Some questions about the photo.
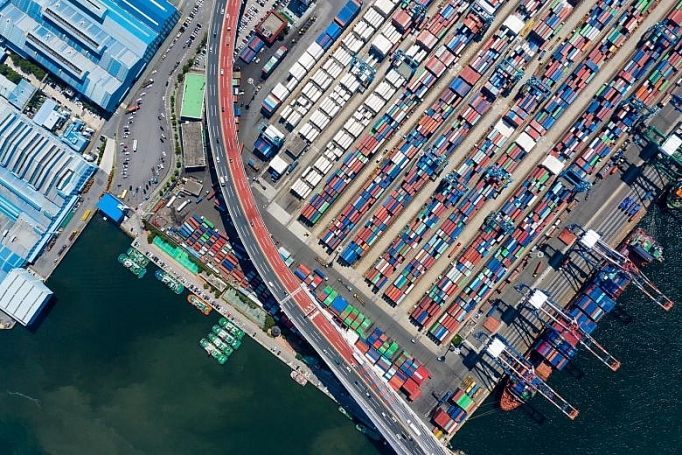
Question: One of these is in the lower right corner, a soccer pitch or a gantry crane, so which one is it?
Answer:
gantry crane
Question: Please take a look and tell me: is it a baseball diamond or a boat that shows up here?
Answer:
boat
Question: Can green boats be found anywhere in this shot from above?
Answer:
Yes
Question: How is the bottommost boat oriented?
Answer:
on a diagonal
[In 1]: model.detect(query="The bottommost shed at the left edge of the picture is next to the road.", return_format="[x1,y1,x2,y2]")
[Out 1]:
[0,266,64,325]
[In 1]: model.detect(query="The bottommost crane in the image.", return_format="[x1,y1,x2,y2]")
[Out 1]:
[476,328,577,419]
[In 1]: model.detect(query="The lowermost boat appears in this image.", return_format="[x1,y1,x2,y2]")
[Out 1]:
[355,422,379,442]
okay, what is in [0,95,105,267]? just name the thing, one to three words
building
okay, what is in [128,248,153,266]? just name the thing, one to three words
boat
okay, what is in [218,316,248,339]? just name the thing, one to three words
boat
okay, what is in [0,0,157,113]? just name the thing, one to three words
warehouse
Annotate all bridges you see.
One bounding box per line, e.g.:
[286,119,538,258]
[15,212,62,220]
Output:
[202,0,455,455]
